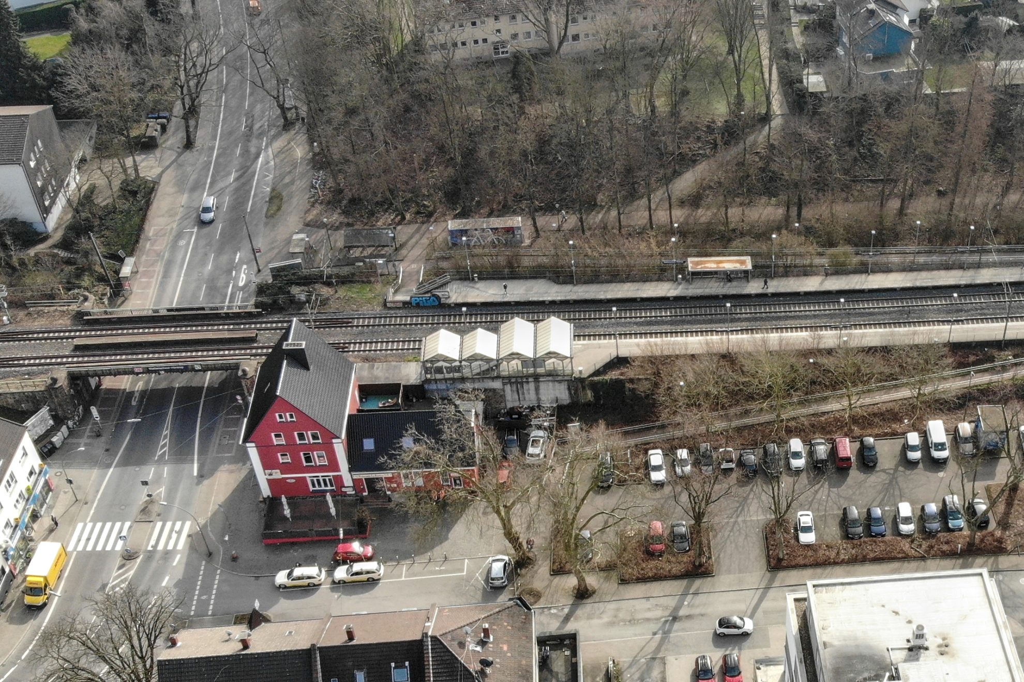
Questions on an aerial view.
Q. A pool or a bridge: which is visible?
bridge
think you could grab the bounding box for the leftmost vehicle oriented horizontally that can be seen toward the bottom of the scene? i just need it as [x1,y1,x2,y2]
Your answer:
[277,566,328,590]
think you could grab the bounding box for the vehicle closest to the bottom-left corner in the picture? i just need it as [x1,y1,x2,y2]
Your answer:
[21,536,72,608]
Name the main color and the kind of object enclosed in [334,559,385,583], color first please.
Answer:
white car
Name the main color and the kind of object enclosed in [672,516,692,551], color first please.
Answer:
gray car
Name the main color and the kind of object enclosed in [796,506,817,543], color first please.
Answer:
white car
